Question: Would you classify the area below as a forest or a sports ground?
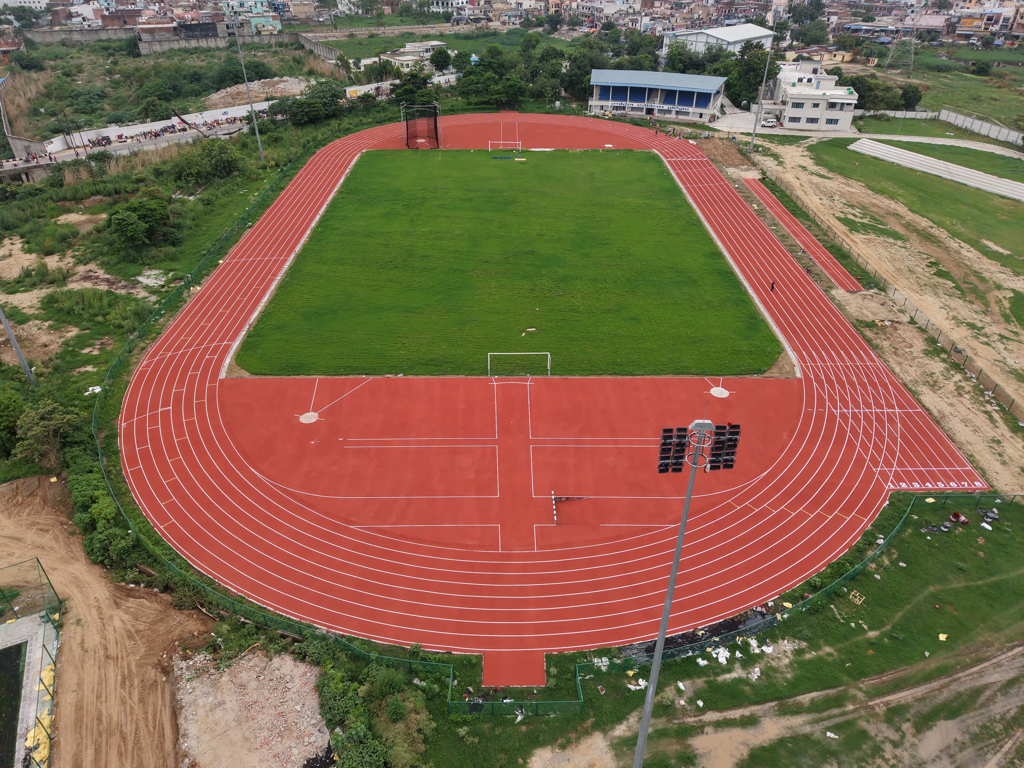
sports ground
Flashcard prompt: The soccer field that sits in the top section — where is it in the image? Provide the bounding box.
[236,150,784,375]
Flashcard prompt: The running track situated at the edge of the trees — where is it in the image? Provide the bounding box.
[118,111,1005,686]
